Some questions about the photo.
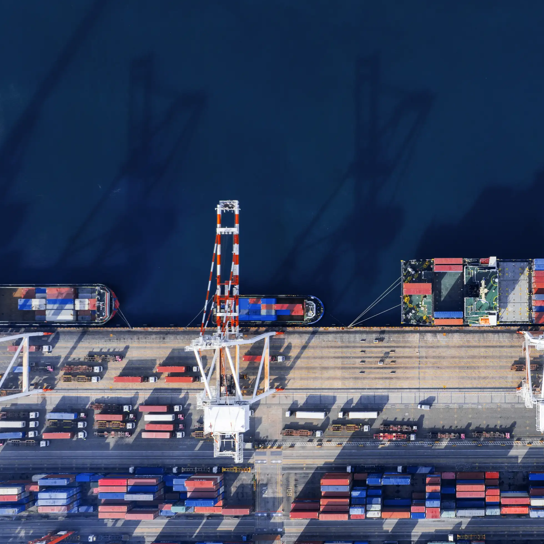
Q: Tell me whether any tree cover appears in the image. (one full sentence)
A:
No, there is no tree cover in the image.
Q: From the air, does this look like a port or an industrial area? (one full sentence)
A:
The picture captures a port.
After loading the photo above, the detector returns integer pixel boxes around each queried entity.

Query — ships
[211,294,325,324]
[402,256,532,325]
[0,283,121,324]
